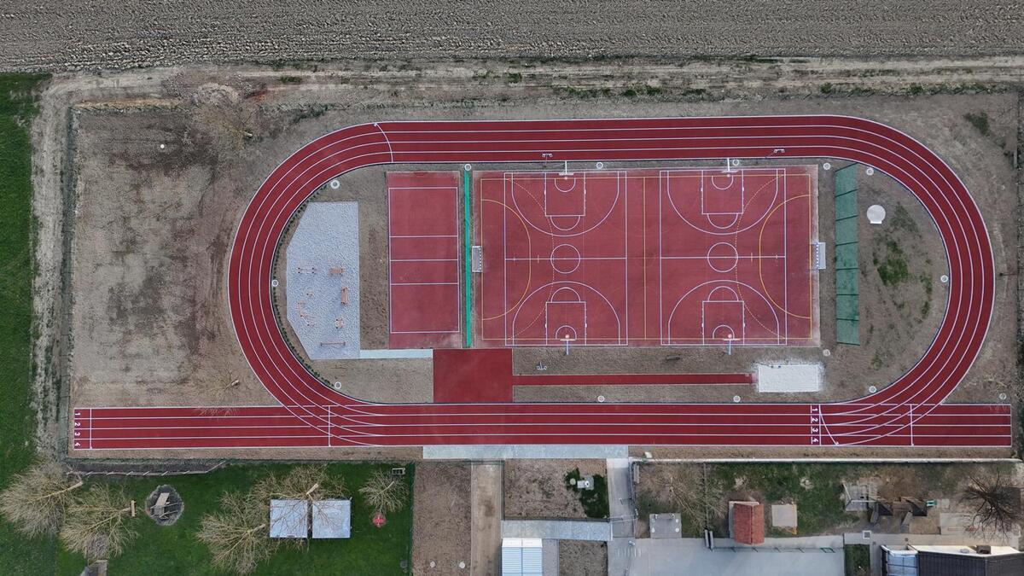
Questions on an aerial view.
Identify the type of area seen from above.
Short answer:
sports ground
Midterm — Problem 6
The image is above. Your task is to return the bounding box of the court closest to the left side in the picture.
[386,171,462,349]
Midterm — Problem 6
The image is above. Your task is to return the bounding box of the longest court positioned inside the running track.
[473,165,821,348]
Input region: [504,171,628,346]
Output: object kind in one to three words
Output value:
basketball court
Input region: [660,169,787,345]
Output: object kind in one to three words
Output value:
basketball court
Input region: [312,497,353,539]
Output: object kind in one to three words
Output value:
shed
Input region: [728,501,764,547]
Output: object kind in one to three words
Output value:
shed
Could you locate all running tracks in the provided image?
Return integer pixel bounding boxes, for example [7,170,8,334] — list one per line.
[73,114,1012,450]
